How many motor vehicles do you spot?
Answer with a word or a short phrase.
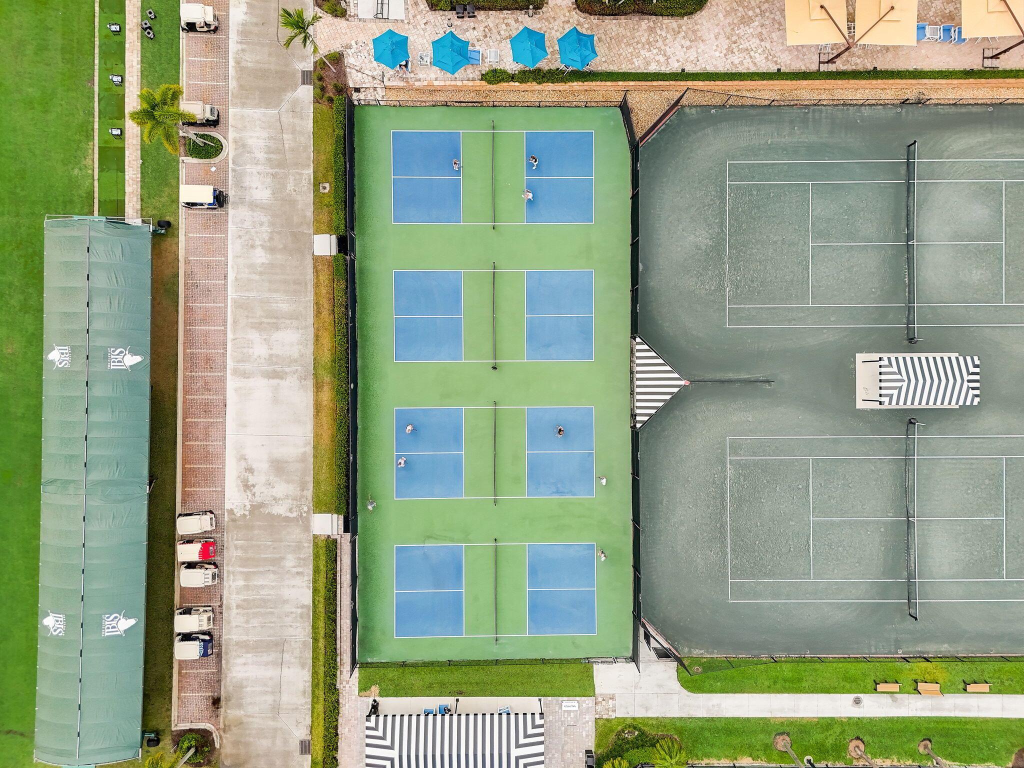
8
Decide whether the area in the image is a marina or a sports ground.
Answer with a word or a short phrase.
sports ground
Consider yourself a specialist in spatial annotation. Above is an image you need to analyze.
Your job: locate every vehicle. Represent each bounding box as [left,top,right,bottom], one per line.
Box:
[179,2,217,33]
[181,184,229,209]
[174,606,214,633]
[175,632,214,660]
[177,536,216,560]
[179,562,219,587]
[176,507,217,532]
[181,102,218,130]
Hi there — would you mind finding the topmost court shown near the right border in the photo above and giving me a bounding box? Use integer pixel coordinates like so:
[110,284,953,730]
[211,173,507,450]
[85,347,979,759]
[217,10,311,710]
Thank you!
[636,104,1024,383]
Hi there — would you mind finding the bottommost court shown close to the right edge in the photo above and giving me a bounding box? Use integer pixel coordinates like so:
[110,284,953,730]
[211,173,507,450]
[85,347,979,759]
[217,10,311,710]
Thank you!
[636,383,1024,656]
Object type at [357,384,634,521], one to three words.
sports court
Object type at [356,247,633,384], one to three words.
sports court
